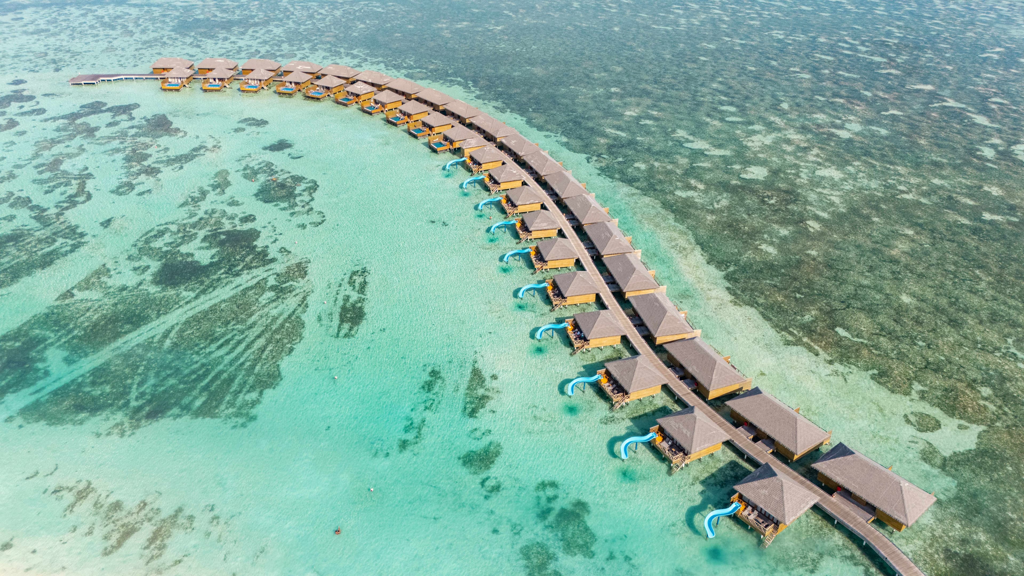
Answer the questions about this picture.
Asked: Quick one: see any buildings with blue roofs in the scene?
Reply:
No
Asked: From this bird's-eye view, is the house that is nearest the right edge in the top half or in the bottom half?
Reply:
bottom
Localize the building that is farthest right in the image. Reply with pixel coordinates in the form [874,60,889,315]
[812,442,936,539]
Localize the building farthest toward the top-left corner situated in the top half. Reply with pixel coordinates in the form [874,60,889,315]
[151,58,195,74]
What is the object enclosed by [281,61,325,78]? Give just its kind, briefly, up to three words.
house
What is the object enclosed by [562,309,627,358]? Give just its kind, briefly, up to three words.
house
